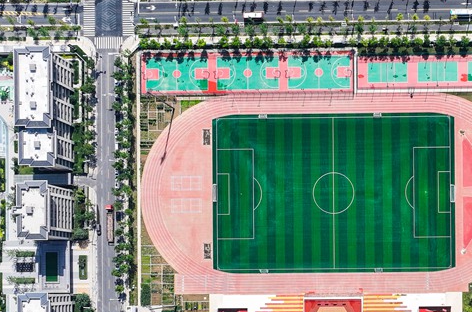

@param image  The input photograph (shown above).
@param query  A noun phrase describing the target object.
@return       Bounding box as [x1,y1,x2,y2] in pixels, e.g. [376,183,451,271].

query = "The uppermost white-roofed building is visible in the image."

[14,47,75,136]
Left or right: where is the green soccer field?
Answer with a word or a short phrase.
right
